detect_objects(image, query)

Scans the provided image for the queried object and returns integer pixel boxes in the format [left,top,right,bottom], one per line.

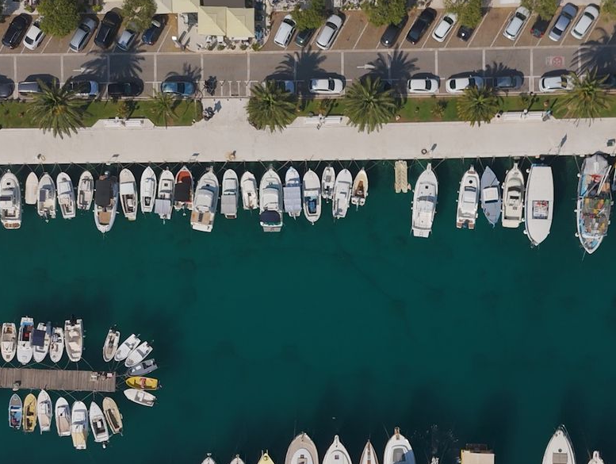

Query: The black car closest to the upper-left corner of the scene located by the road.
[4,12,34,54]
